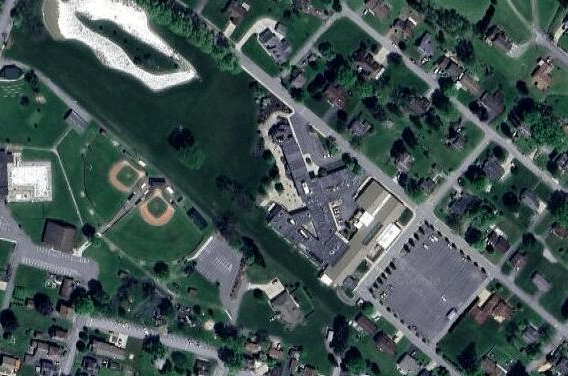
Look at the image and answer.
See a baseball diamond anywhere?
Yes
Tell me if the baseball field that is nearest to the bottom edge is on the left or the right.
left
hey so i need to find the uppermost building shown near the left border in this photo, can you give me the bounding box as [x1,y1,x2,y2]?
[0,63,22,79]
